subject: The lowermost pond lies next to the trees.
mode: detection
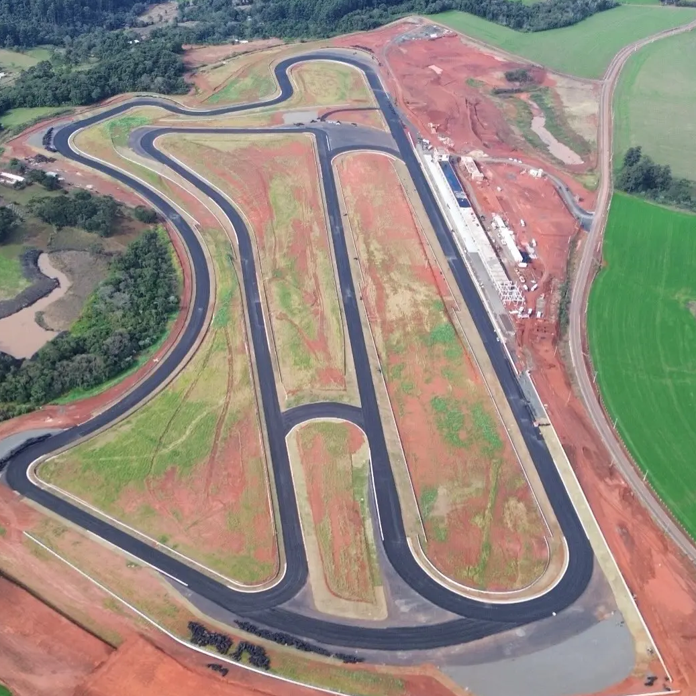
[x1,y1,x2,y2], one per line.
[0,255,73,361]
